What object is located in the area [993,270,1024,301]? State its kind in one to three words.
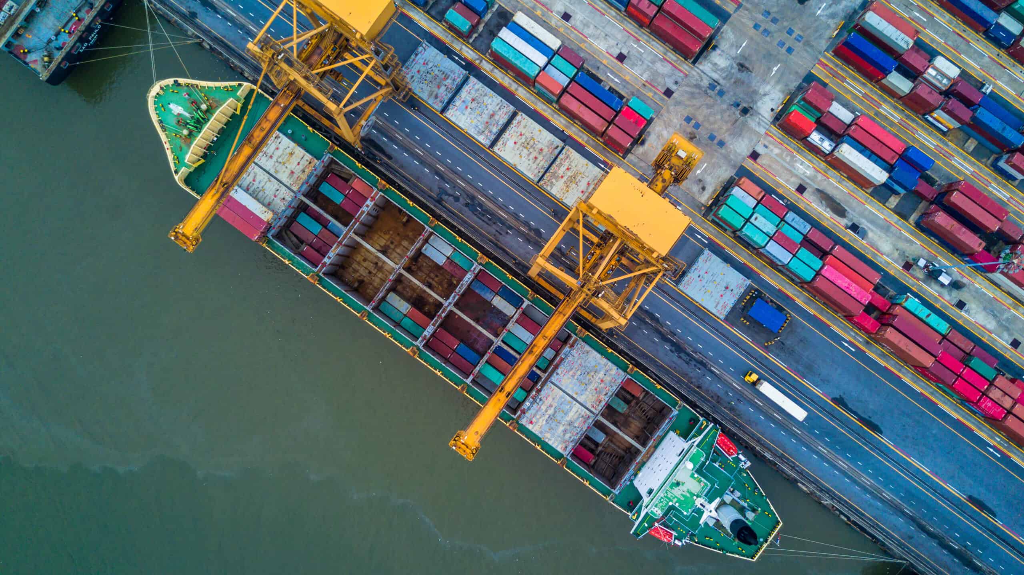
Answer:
shipping container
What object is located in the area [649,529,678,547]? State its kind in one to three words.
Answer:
boat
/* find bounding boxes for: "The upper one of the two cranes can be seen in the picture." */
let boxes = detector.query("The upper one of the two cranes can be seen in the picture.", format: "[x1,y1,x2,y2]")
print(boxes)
[170,0,417,252]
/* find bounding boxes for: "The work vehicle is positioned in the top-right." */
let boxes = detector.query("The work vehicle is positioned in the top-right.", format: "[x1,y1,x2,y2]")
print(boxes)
[978,86,998,101]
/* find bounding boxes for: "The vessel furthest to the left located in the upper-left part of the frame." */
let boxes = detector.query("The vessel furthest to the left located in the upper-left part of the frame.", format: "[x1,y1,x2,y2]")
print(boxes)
[0,0,114,76]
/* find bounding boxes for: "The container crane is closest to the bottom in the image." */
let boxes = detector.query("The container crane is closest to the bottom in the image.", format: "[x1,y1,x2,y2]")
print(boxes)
[451,133,703,463]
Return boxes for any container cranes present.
[451,133,703,463]
[170,0,417,252]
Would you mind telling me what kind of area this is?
port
